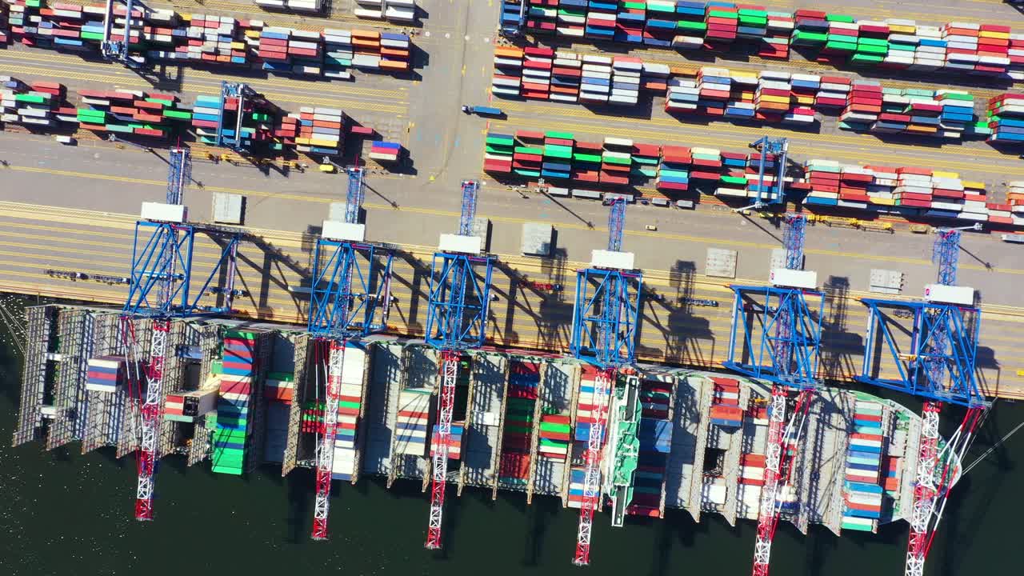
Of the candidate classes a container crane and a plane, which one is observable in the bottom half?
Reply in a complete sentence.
It is a container crane that can be seen in the bottom half.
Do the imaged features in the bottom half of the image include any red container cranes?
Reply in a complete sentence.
No, there is no red container crane in the bottom half of the image.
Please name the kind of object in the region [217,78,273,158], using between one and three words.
crane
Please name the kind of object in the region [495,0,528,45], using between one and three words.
crane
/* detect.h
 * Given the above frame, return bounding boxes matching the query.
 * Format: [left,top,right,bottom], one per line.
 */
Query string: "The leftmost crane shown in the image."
[101,0,161,79]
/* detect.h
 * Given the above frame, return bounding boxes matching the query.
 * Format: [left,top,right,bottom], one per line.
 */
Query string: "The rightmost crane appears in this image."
[842,229,992,576]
